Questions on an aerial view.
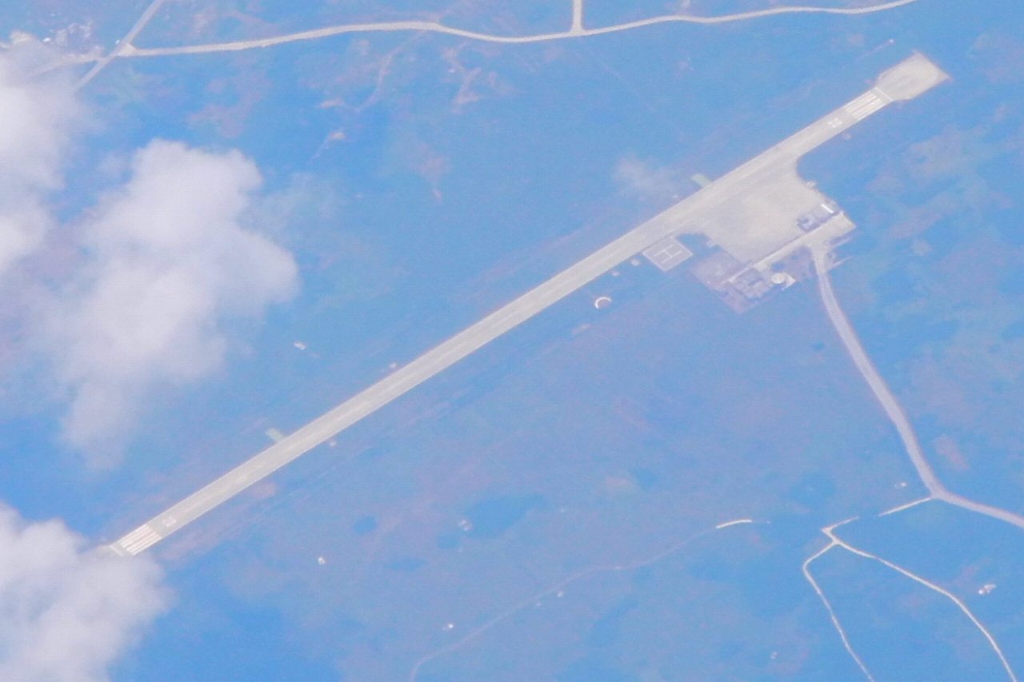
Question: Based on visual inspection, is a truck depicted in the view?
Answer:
No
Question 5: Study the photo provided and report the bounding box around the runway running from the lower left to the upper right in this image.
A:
[101,88,893,563]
